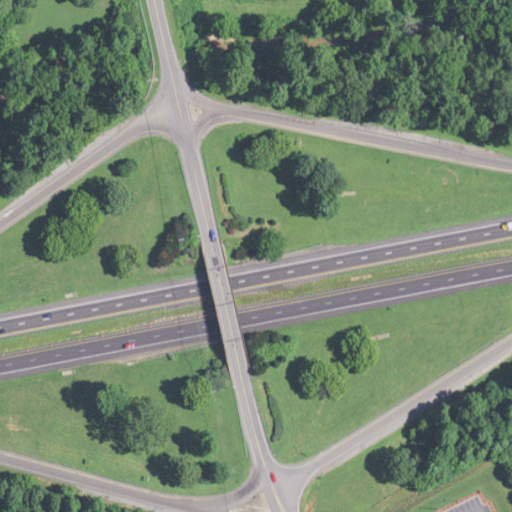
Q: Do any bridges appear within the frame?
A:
Yes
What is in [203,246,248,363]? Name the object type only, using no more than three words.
bridge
